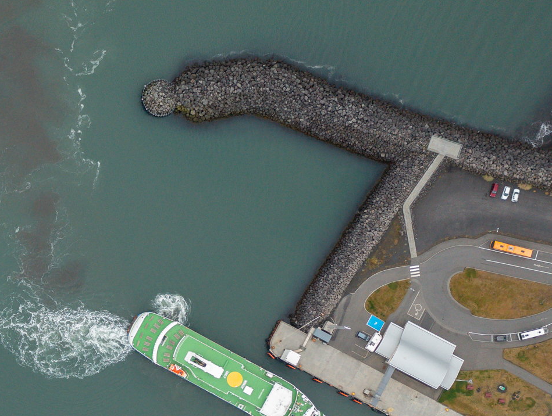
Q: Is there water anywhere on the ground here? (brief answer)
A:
Yes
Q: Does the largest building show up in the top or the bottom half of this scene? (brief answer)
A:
bottom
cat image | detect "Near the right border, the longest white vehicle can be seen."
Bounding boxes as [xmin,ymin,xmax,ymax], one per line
[517,327,550,341]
